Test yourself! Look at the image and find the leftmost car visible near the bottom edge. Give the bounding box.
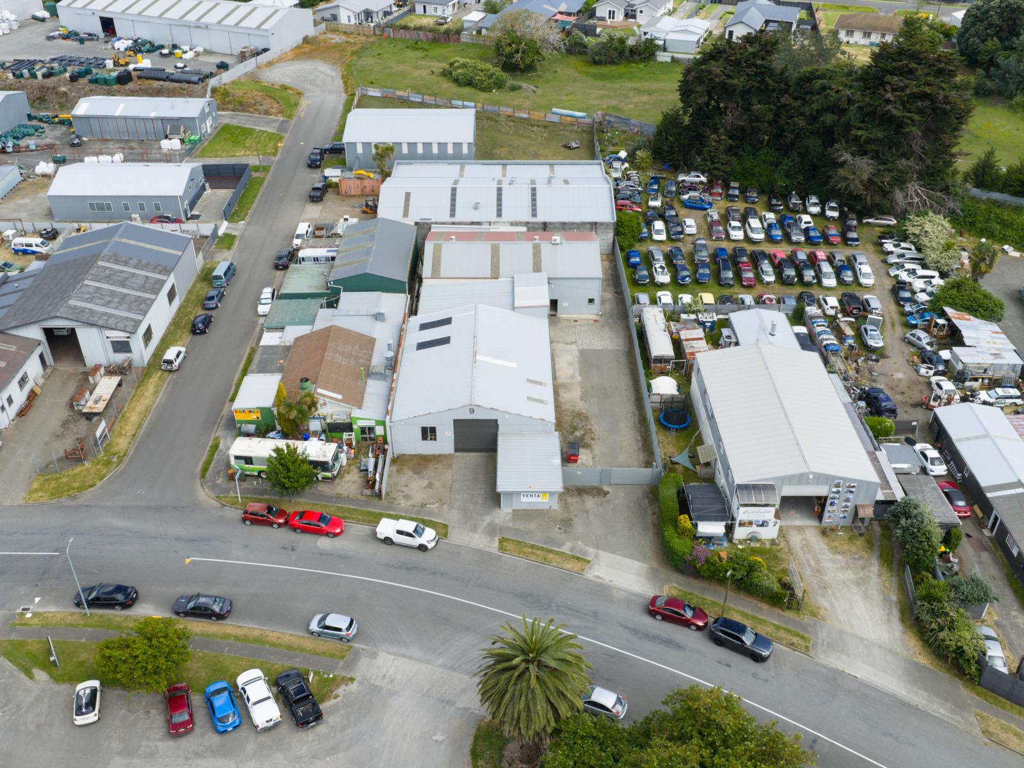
[70,678,103,732]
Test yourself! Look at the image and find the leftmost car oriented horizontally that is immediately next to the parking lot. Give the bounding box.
[73,583,140,611]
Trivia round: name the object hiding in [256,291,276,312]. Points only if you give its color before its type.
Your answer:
white car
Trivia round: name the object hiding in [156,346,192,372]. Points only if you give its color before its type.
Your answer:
white car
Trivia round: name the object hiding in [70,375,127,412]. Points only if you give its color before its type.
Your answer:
white trailer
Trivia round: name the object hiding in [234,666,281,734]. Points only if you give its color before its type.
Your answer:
white truck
